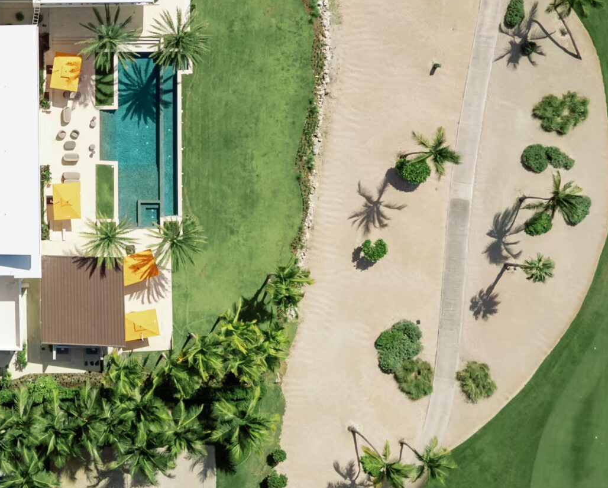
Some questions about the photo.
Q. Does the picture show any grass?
Yes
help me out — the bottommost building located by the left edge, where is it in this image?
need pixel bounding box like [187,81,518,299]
[29,255,126,373]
